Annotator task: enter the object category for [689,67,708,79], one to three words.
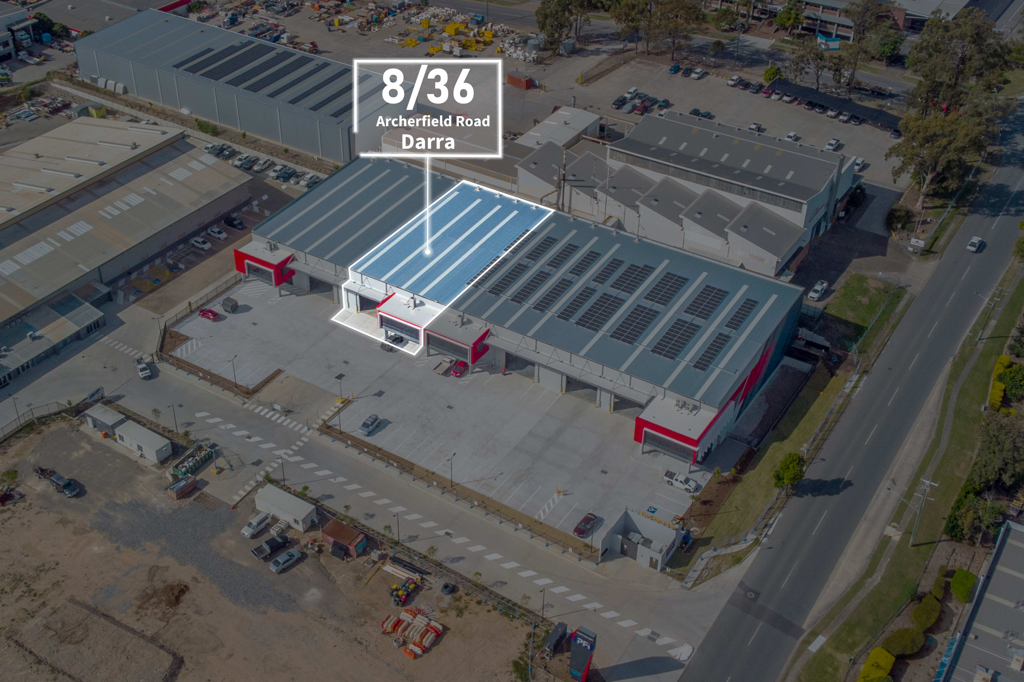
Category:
vehicle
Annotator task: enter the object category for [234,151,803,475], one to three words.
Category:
warehouse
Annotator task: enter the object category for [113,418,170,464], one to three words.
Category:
building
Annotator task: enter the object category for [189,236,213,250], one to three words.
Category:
car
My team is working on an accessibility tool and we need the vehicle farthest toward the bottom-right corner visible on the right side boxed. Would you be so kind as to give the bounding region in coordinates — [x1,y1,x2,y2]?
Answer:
[662,468,698,493]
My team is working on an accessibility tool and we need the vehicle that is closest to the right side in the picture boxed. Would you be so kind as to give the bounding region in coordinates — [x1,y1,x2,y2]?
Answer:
[967,237,982,252]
